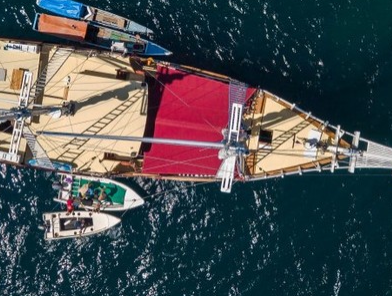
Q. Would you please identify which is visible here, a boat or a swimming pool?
boat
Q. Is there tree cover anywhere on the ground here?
No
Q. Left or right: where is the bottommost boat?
left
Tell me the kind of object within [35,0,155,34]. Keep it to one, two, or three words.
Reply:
boat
